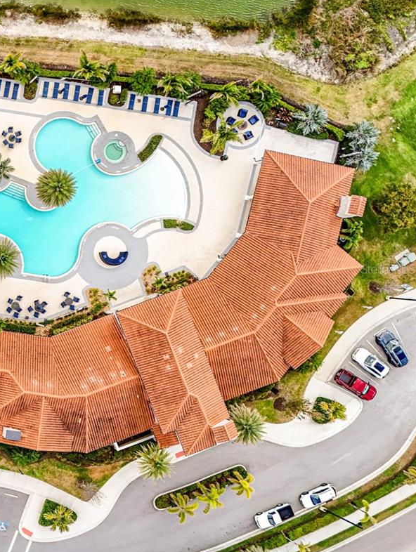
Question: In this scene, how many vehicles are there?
5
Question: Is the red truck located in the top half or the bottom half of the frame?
bottom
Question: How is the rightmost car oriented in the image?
on a diagonal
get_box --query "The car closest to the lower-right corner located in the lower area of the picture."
[296,481,336,506]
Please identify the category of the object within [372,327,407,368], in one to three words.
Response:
car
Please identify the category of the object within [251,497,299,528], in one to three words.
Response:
truck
